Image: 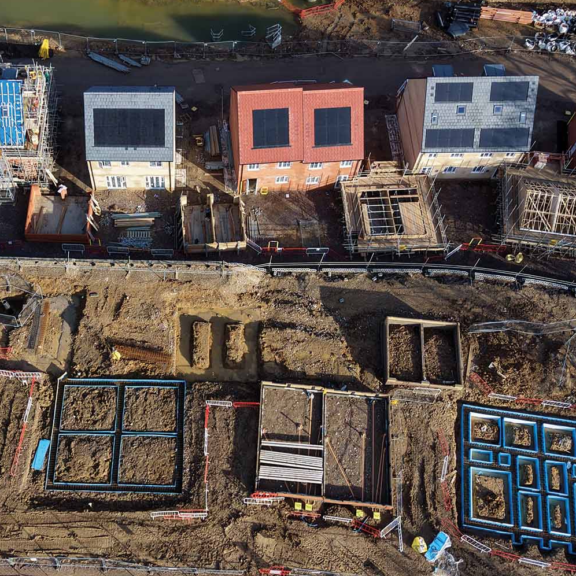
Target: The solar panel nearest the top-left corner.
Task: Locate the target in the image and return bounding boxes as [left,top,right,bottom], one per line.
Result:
[95,111,163,146]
